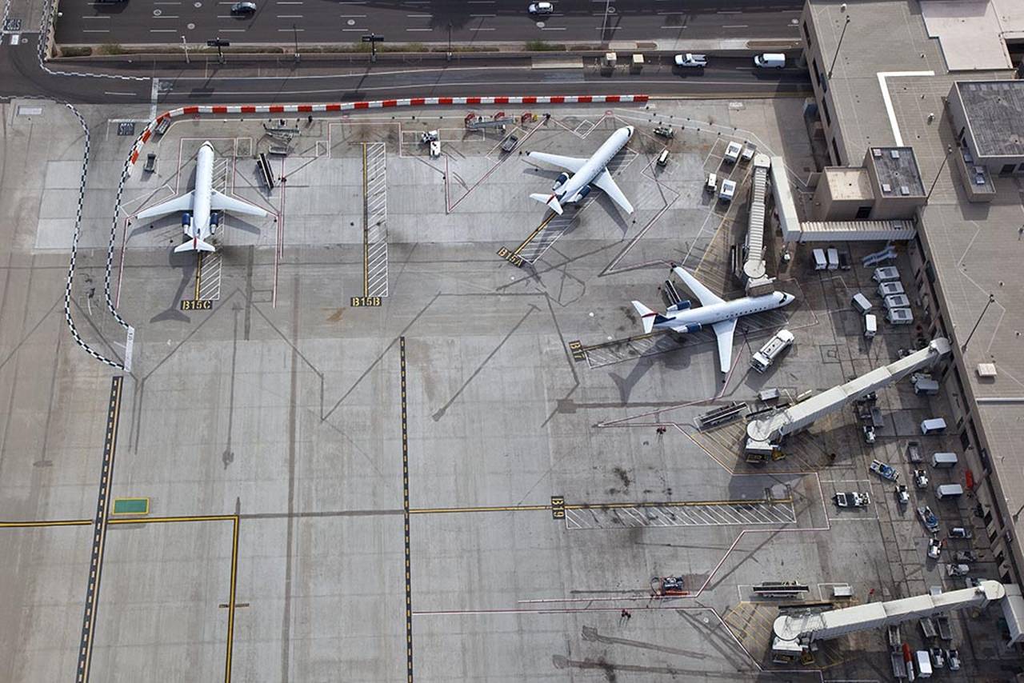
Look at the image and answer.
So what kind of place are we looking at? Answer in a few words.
airport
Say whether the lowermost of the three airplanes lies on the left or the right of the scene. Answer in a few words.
right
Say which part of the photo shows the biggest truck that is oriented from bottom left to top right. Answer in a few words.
right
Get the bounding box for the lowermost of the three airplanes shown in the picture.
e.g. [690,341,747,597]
[632,265,794,374]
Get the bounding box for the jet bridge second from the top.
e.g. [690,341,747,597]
[742,342,949,464]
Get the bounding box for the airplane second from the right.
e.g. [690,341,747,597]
[528,127,640,217]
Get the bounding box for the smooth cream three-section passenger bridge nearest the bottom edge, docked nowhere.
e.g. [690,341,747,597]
[768,578,1007,665]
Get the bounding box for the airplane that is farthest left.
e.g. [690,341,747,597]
[133,142,268,254]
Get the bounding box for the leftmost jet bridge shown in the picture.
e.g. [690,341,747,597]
[729,156,773,300]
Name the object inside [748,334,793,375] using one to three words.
truck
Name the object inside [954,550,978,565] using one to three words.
work vehicle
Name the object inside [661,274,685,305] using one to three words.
work vehicle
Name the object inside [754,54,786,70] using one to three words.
vehicle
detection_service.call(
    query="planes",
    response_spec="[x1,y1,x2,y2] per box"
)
[133,142,268,254]
[632,265,794,374]
[528,127,640,217]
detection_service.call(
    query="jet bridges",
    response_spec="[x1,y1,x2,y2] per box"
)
[768,578,1007,665]
[742,342,949,464]
[729,156,773,300]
